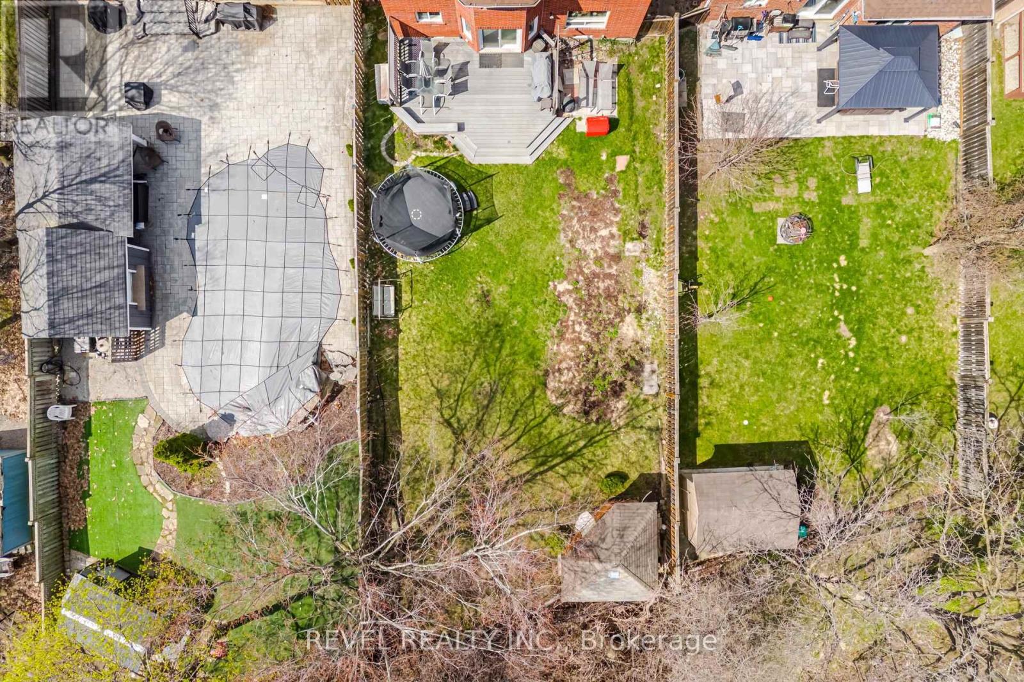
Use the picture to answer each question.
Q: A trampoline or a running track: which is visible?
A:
trampoline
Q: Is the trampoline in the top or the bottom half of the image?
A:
top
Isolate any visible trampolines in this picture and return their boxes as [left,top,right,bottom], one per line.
[368,158,465,264]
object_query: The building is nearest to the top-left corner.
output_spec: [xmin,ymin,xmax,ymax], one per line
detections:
[13,114,152,338]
